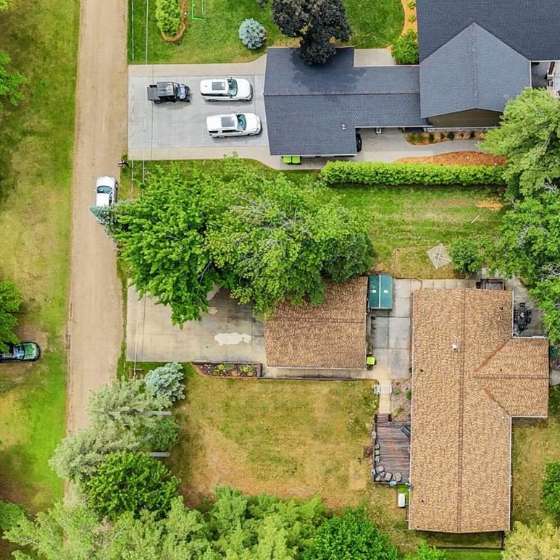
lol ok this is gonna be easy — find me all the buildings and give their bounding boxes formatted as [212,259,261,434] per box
[406,286,550,535]
[264,0,560,158]
[260,278,368,370]
[369,274,394,309]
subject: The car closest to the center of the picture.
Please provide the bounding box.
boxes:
[207,111,260,136]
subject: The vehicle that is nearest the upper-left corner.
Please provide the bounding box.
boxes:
[145,81,188,102]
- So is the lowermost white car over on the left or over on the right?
left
